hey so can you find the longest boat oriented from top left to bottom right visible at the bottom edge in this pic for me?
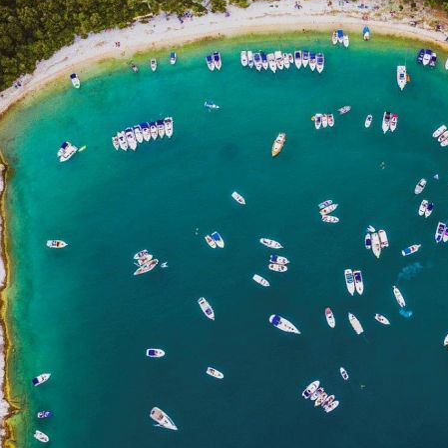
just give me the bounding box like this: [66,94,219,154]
[149,406,177,432]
